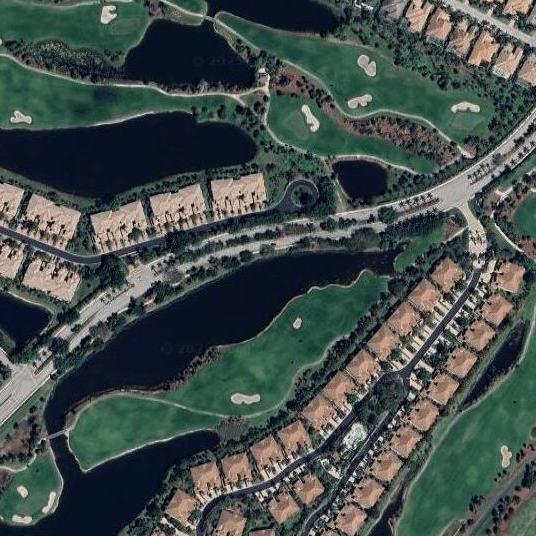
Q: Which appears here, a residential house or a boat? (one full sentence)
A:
Of the two, only a residential house appears.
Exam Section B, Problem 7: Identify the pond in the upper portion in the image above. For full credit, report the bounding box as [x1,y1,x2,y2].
[332,159,389,198]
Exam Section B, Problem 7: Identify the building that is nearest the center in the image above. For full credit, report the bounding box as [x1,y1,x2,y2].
[209,171,268,219]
